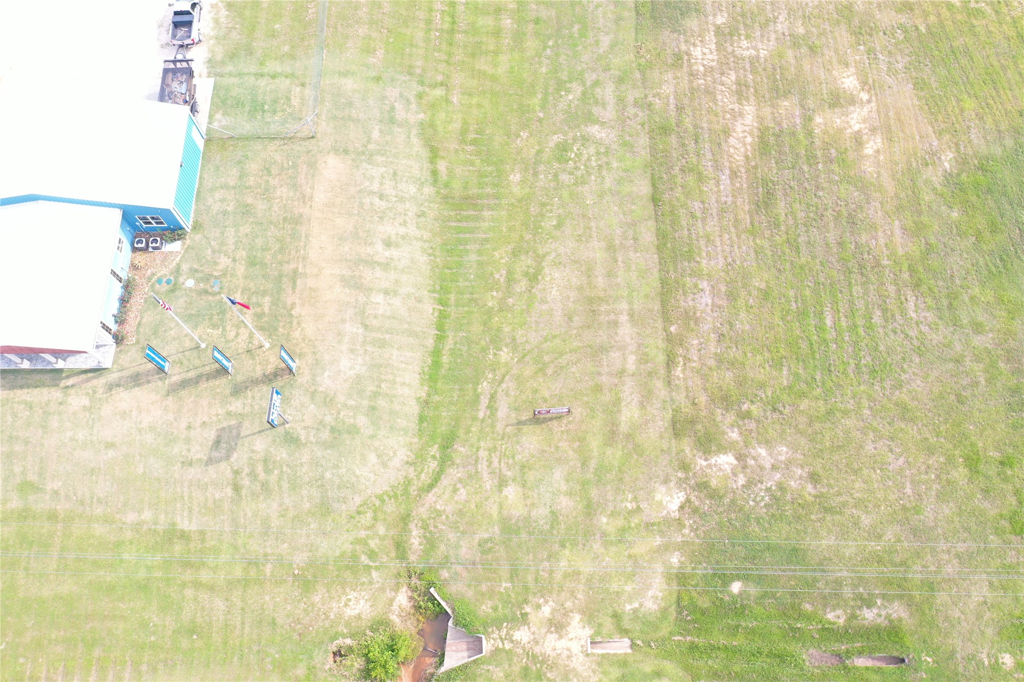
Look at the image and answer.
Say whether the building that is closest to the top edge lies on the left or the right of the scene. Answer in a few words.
left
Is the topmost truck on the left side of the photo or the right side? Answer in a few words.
left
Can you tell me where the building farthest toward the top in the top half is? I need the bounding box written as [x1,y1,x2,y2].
[0,90,206,237]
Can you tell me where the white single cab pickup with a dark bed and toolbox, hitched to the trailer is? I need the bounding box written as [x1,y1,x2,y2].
[170,0,202,51]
